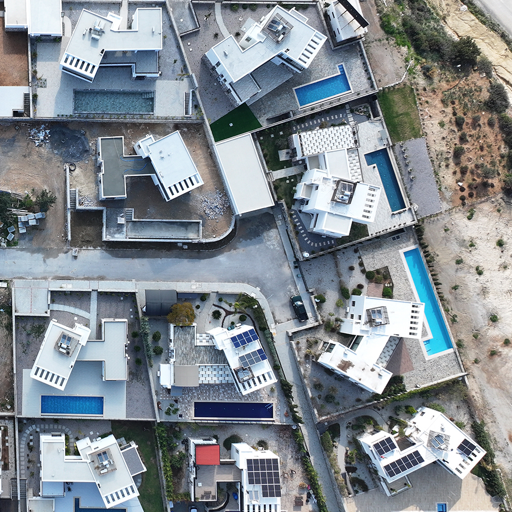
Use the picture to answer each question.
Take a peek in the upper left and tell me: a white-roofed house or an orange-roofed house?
white-roofed house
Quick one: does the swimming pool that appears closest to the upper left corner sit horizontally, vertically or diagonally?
horizontally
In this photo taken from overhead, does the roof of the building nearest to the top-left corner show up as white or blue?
white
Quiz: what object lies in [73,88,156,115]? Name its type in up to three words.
swimming pool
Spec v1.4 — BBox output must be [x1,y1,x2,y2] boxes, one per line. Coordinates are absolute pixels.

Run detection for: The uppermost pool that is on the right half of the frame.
[292,62,354,109]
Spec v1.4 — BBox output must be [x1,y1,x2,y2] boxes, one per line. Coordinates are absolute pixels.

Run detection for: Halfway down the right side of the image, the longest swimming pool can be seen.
[400,245,454,359]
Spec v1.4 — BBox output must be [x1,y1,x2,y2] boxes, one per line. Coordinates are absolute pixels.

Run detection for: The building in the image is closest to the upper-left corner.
[4,0,28,33]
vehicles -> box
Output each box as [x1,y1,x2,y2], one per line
[292,294,310,323]
[188,506,199,512]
